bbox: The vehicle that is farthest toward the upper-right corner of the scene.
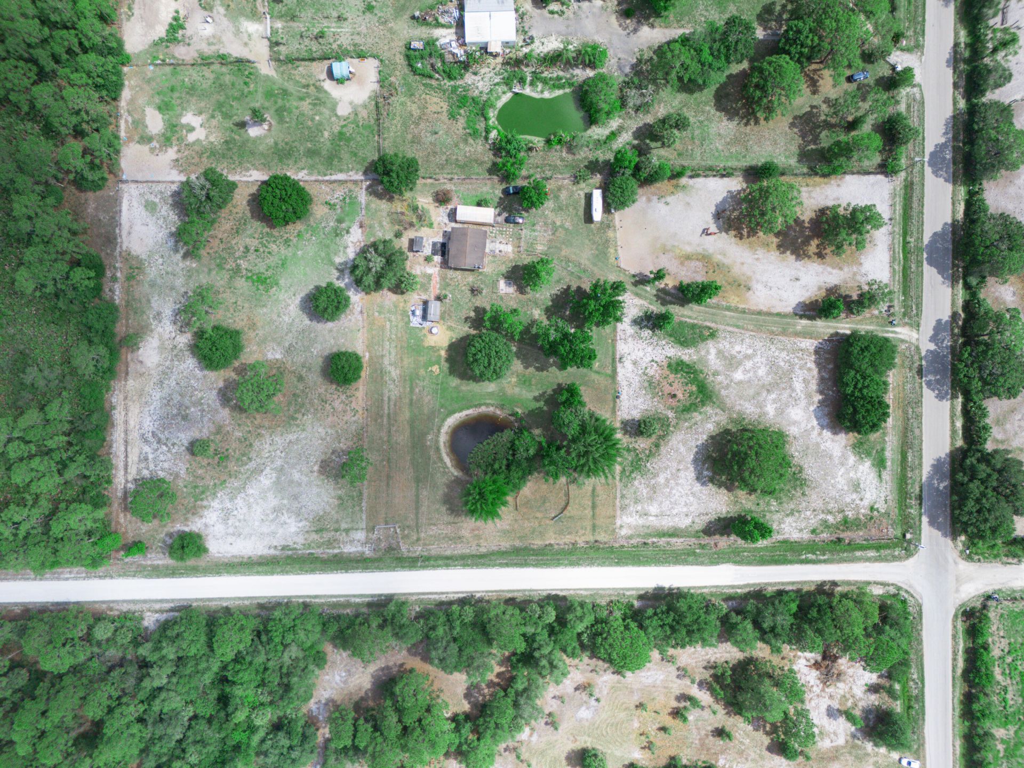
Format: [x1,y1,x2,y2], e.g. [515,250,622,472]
[848,70,869,84]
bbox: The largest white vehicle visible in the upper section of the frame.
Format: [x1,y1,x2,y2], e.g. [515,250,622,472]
[591,190,603,228]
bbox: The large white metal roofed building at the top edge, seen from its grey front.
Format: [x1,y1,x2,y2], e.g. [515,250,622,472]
[465,0,516,56]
